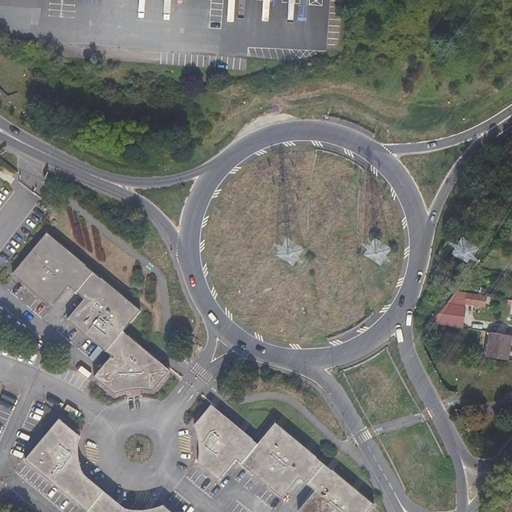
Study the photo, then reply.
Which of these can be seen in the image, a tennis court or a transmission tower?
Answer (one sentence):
I can see a transmission tower in this picture.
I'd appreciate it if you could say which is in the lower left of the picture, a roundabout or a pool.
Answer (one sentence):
The feature located in the lower left of the picture is a roundabout.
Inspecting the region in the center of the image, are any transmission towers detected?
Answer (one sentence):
Yes, the scene does show a transmission tower in the center of the image.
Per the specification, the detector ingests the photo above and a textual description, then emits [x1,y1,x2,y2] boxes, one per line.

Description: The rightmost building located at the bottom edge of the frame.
[194,404,380,512]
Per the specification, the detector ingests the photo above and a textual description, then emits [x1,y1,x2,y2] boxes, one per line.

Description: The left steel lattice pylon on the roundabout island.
[274,238,306,266]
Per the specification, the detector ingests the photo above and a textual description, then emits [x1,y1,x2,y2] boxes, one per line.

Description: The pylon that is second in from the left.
[362,240,394,267]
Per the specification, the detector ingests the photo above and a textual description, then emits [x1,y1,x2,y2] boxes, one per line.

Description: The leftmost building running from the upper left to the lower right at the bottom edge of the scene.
[26,419,171,512]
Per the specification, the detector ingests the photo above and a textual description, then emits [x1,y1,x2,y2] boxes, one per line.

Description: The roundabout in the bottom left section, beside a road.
[86,398,186,494]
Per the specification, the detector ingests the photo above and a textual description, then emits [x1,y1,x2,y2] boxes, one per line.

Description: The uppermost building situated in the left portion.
[12,233,173,397]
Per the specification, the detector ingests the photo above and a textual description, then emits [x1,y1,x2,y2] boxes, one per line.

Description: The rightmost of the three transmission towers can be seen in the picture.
[452,236,484,264]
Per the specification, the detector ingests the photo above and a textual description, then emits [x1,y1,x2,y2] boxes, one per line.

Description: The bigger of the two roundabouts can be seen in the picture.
[177,118,432,372]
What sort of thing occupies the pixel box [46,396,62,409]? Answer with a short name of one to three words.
vehicle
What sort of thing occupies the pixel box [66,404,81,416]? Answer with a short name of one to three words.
vehicle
